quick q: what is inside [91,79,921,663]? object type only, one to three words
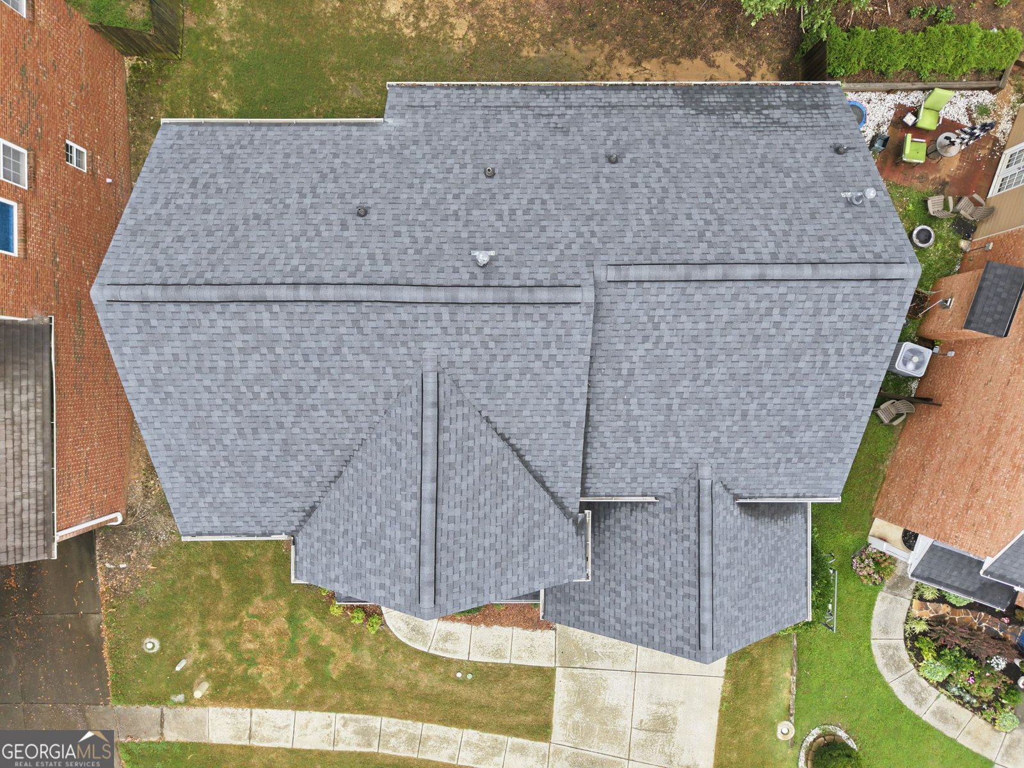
house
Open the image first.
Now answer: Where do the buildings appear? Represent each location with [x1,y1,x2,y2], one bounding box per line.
[91,79,921,663]
[866,103,1024,618]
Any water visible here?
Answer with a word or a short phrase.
No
